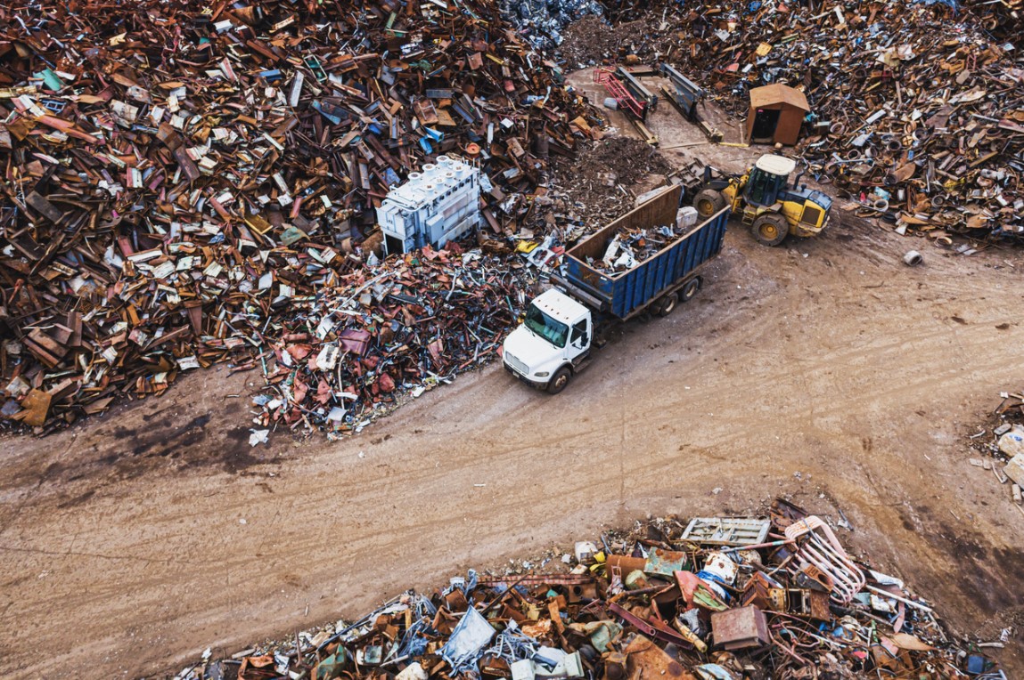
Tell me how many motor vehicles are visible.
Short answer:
2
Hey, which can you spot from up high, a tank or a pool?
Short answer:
tank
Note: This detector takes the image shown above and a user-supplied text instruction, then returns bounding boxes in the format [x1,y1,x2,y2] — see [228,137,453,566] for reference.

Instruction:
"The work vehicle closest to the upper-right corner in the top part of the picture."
[649,156,829,251]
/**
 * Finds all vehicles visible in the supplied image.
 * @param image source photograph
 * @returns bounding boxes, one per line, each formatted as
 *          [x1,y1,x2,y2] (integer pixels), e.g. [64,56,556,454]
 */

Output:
[649,156,829,251]
[501,273,620,395]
